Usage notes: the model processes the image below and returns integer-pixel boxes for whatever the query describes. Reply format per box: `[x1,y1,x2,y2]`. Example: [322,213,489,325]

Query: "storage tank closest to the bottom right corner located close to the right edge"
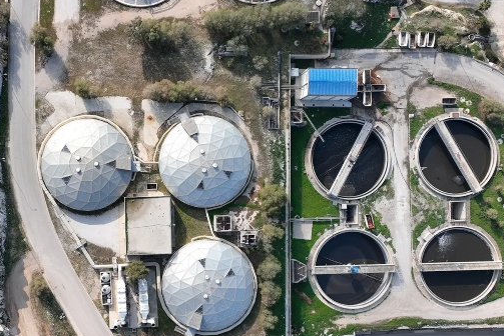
[413,223,503,309]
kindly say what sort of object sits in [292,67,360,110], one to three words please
building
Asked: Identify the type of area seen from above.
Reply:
industrial area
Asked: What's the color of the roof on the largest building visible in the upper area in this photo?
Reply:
blue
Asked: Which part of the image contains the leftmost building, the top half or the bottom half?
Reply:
bottom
